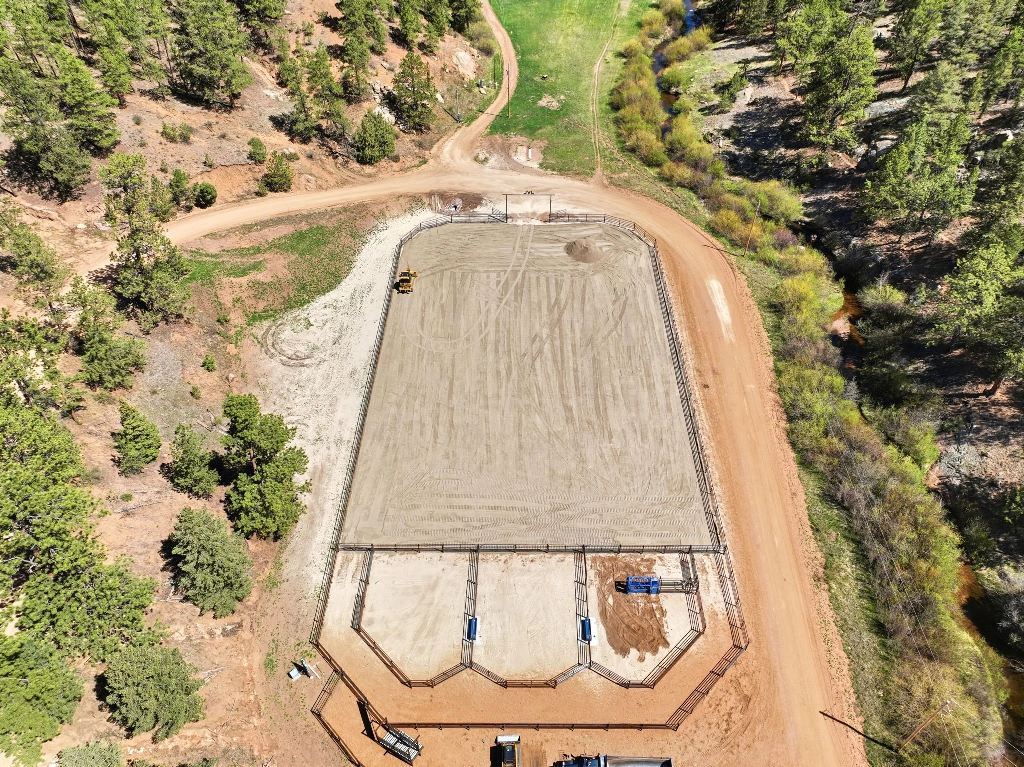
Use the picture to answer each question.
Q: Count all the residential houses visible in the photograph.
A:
0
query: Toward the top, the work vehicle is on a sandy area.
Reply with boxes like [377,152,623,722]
[401,264,424,290]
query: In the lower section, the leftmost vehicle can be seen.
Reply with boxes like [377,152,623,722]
[497,738,521,767]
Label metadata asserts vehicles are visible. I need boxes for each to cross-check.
[497,738,521,767]
[559,750,674,767]
[401,264,424,290]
